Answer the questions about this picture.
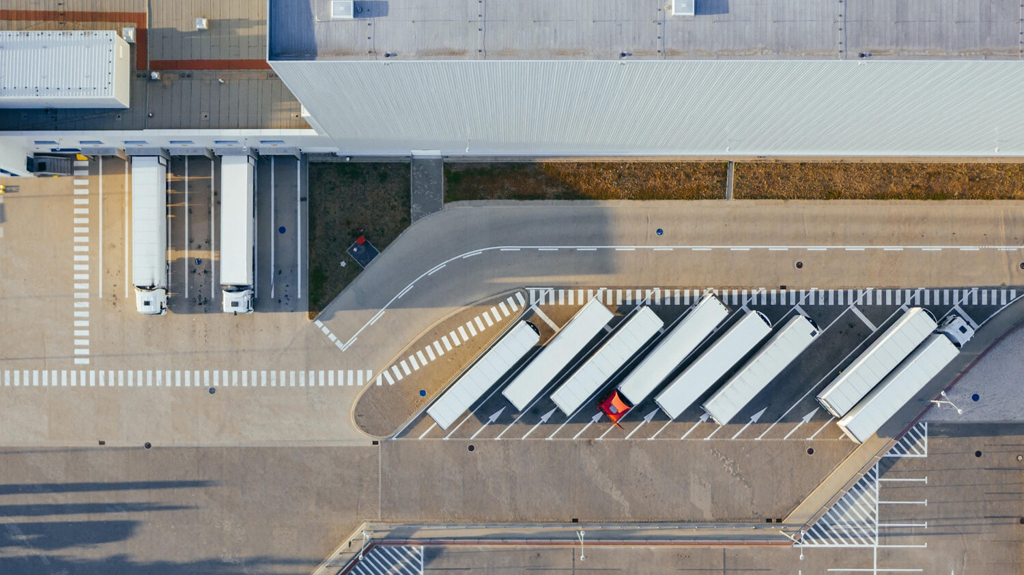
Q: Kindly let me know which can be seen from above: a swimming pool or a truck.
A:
truck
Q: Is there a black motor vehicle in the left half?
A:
No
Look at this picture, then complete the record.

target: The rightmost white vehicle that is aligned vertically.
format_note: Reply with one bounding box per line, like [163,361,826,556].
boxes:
[221,155,255,314]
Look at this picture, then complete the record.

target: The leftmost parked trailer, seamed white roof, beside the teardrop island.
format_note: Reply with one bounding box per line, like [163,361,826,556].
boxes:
[428,320,540,429]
